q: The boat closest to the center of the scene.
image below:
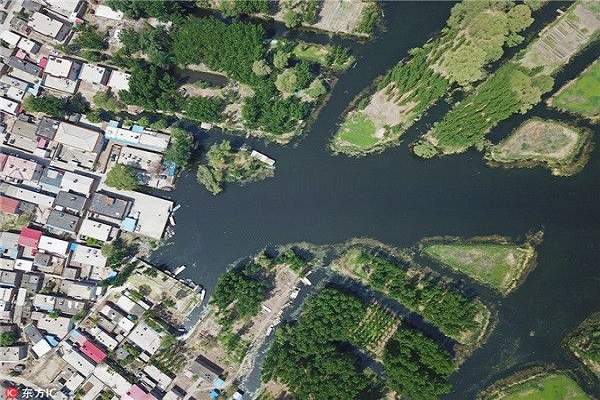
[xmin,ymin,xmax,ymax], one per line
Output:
[252,150,275,166]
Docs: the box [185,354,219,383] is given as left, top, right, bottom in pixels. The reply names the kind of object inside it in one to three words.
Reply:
house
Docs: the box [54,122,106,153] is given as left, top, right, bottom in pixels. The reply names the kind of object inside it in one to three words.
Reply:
building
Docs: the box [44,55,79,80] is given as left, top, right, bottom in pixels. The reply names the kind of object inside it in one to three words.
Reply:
house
